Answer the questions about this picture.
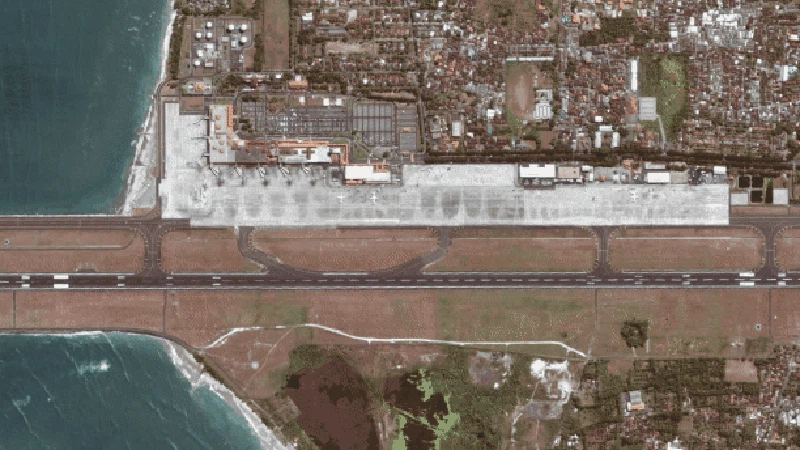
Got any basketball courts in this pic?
No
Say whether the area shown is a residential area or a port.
residential area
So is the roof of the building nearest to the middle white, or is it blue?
white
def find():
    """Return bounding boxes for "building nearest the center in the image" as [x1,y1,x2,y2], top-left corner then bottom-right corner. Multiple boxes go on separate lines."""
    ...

[345,164,391,184]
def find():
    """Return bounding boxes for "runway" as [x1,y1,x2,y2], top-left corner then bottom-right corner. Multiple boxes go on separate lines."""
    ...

[0,270,800,291]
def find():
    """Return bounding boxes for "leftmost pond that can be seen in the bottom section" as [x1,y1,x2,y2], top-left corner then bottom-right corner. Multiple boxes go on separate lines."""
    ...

[284,357,380,450]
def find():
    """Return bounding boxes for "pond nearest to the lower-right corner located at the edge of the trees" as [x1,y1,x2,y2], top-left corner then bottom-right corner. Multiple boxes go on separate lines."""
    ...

[384,370,462,450]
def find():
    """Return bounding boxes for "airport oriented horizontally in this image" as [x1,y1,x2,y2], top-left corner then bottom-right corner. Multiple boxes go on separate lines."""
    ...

[0,102,800,291]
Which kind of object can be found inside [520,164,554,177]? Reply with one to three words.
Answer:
hangar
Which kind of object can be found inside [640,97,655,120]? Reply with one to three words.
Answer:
building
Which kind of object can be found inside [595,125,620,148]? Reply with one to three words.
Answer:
building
